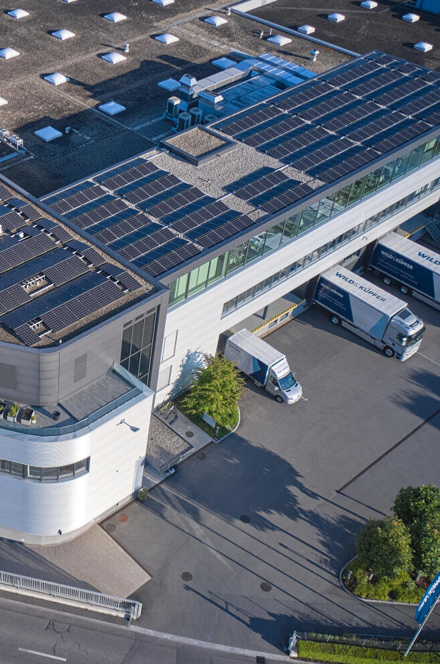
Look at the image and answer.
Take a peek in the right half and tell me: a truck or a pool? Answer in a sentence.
The feature located in the right half is a truck.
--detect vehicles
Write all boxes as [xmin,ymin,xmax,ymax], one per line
[226,329,302,404]
[370,235,440,311]
[318,268,430,363]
